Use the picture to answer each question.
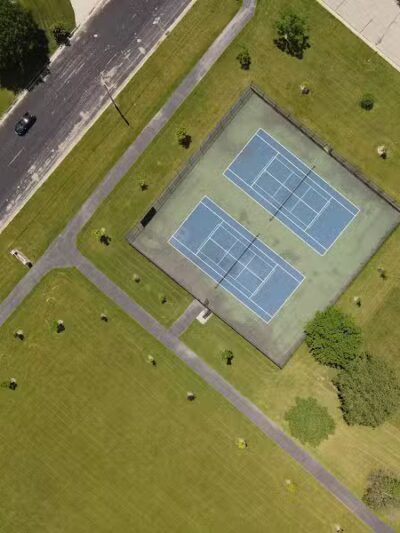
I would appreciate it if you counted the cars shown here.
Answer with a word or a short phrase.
1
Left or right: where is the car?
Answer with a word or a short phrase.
left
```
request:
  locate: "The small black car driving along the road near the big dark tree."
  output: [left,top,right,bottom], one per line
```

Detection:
[13,111,35,135]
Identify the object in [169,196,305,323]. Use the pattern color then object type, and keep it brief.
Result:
blue tennis court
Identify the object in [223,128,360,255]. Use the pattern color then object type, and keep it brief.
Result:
blue tennis court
